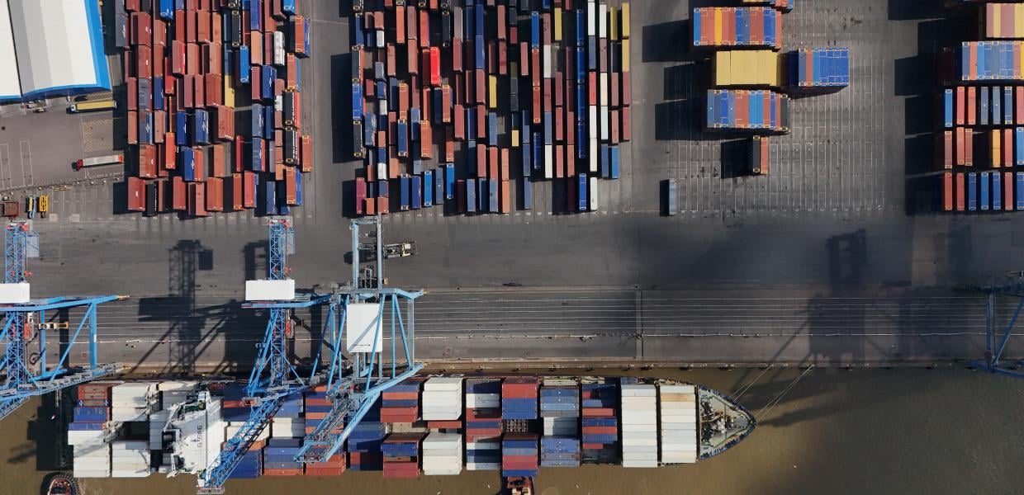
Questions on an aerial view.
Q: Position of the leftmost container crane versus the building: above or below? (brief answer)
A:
below it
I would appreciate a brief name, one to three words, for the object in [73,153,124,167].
vehicle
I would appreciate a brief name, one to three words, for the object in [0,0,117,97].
building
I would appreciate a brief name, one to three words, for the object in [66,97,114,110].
vehicle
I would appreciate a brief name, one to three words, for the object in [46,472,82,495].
boat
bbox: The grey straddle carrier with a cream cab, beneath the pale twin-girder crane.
[384,239,422,256]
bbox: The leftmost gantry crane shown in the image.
[0,218,140,420]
